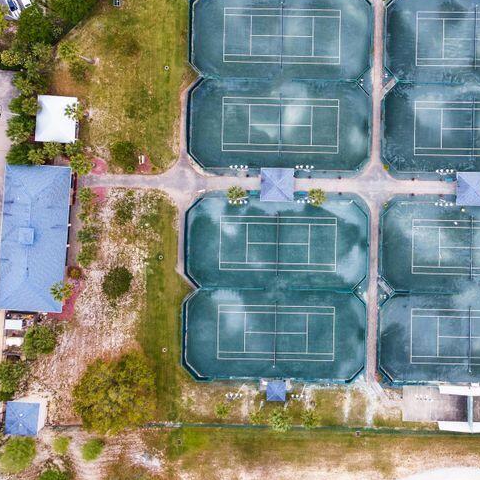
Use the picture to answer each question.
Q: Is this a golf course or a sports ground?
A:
sports ground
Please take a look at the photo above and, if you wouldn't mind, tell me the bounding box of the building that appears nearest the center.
[259,168,293,202]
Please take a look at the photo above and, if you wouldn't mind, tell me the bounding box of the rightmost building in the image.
[455,172,480,205]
